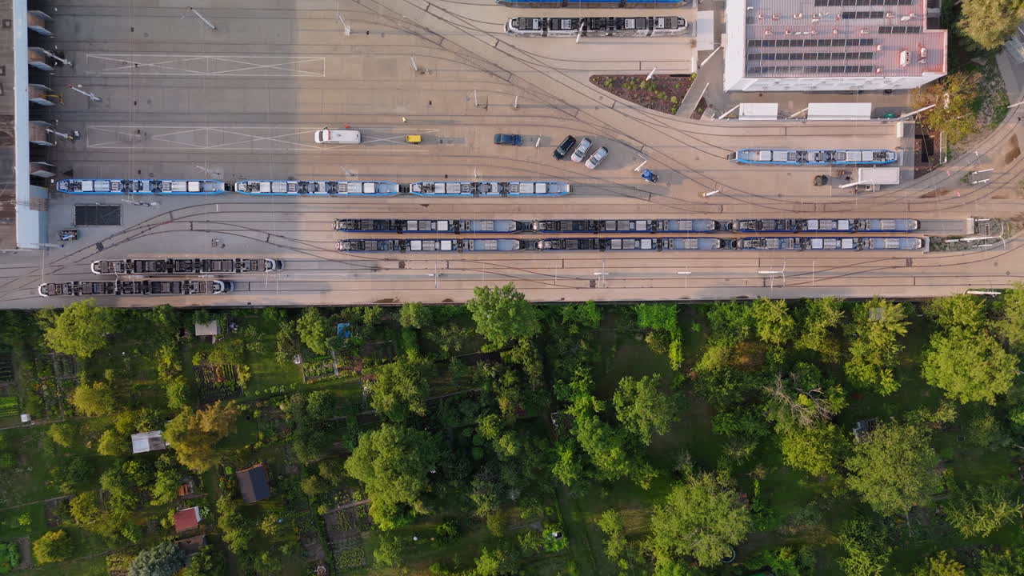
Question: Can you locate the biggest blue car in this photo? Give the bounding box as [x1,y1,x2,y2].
[494,133,521,146]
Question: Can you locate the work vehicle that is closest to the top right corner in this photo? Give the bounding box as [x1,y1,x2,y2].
[641,168,659,184]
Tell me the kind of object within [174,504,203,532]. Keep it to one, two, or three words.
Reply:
shed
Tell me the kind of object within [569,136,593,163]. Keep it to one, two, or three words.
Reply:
car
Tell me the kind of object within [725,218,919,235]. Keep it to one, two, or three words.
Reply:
train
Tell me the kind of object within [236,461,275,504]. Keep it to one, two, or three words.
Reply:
building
